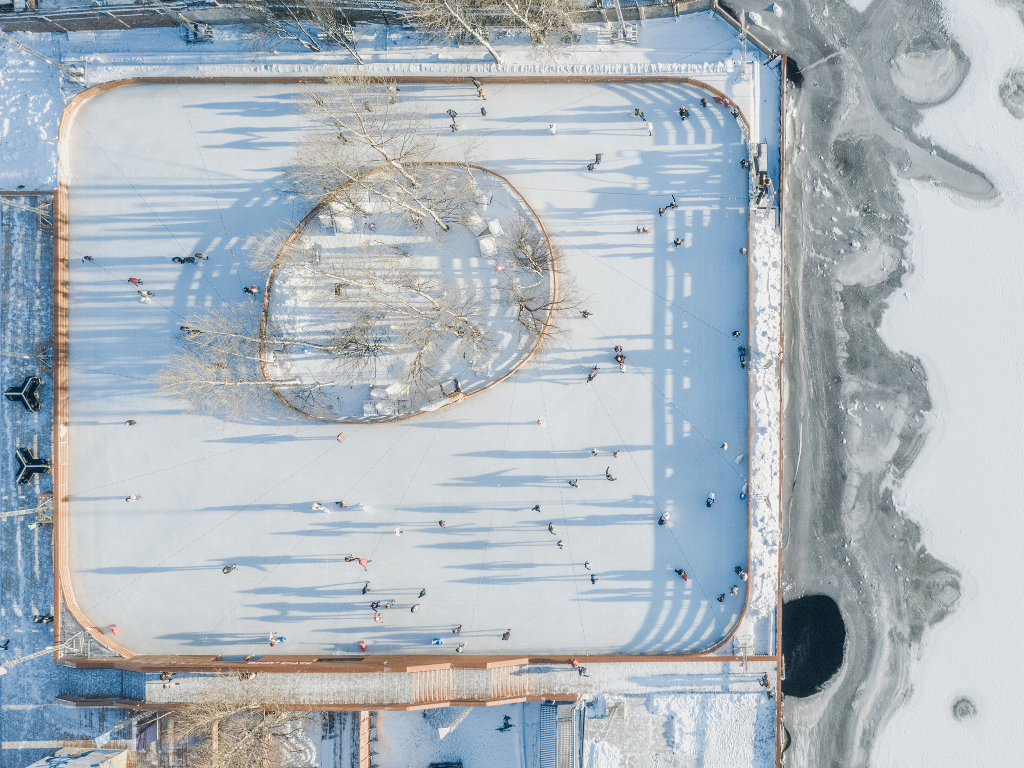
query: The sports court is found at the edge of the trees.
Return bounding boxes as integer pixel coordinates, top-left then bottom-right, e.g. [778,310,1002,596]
[66,83,750,655]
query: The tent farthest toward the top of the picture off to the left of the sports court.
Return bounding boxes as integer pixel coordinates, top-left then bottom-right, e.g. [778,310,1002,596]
[3,376,49,410]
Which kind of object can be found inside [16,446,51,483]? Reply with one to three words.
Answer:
tent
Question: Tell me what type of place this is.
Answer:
sports ground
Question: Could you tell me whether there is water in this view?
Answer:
Yes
